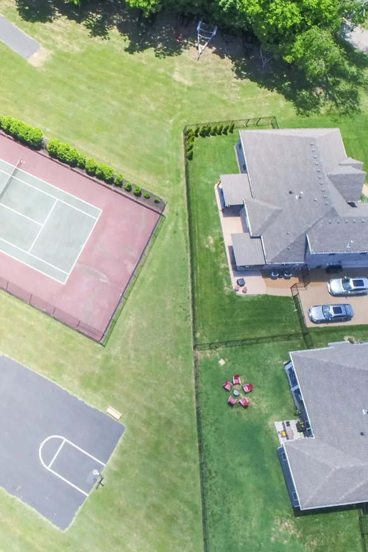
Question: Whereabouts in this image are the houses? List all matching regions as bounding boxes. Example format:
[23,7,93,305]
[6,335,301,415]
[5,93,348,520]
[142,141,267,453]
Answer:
[215,128,368,272]
[278,340,368,511]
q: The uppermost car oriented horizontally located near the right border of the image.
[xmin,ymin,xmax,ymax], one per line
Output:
[326,276,368,296]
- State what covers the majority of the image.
grass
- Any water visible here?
No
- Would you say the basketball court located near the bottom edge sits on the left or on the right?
left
